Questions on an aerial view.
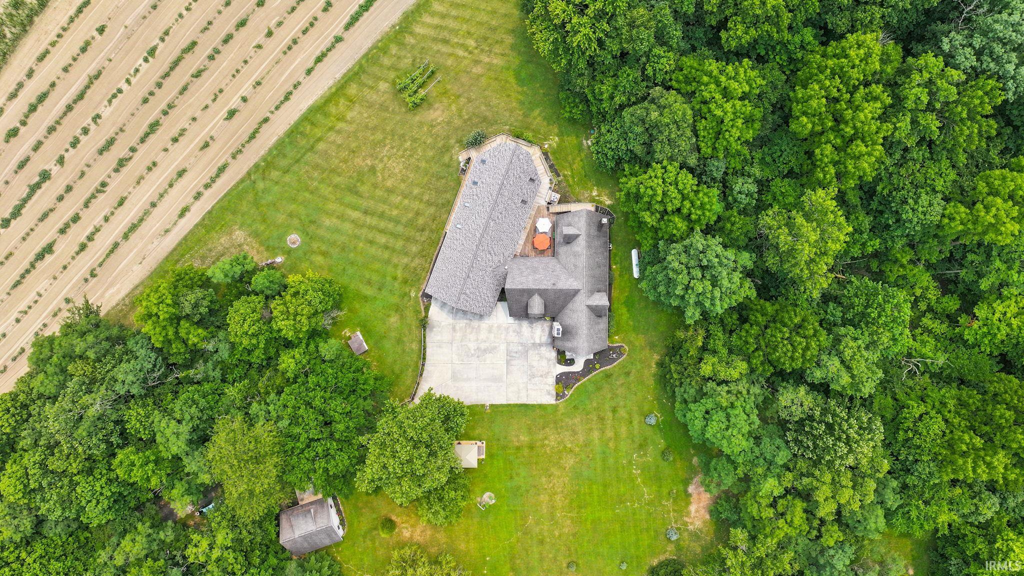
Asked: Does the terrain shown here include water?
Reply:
No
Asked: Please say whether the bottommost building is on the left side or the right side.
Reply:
left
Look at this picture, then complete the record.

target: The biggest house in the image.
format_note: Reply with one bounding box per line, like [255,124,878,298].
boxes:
[424,143,609,356]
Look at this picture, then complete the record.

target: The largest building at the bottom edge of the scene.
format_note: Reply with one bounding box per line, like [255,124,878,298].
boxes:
[280,493,345,556]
